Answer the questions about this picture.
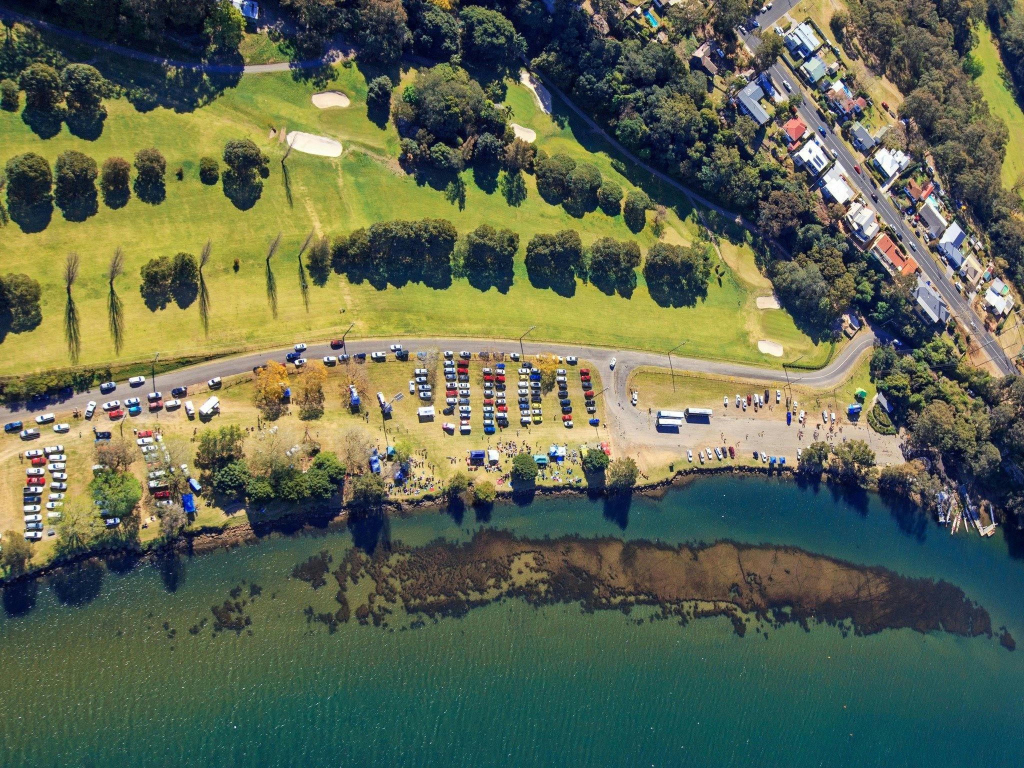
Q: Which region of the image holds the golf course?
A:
top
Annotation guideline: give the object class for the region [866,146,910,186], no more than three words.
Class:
house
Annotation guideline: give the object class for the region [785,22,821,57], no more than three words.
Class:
house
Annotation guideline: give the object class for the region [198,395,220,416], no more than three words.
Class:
camper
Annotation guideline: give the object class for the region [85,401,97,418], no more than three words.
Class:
vehicle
